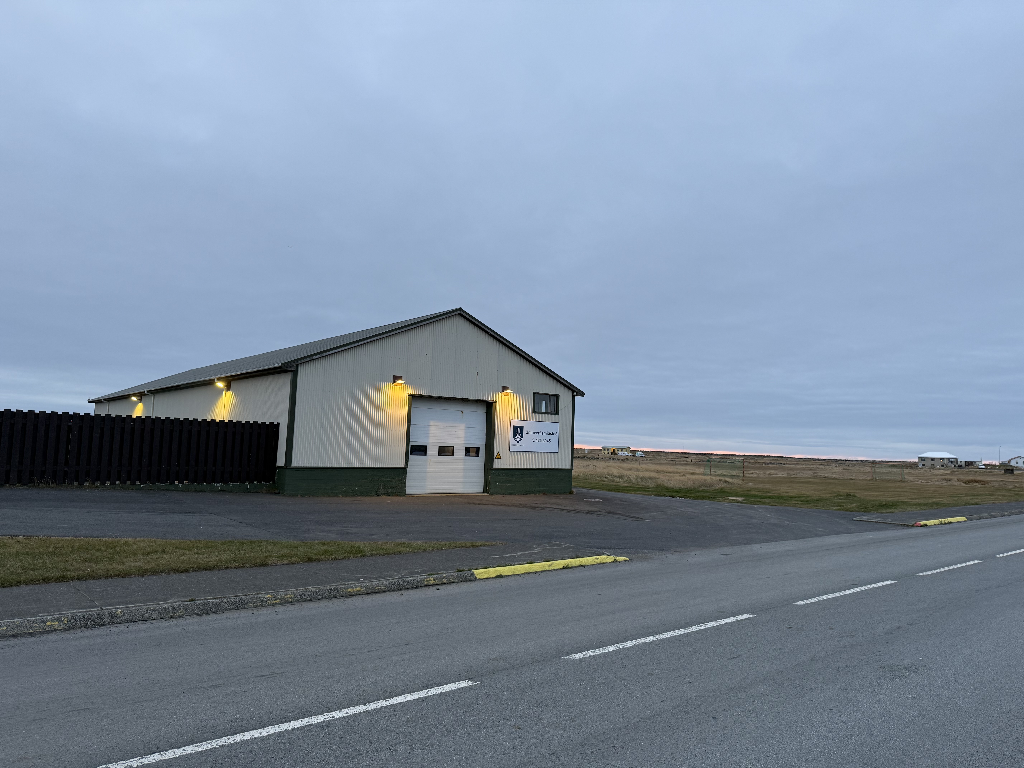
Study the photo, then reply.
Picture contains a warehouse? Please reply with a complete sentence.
Yes, I can see a warehouse in this picture.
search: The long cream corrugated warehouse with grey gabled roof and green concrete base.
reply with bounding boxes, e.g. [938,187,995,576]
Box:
[86,306,586,496]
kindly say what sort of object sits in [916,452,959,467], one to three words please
house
